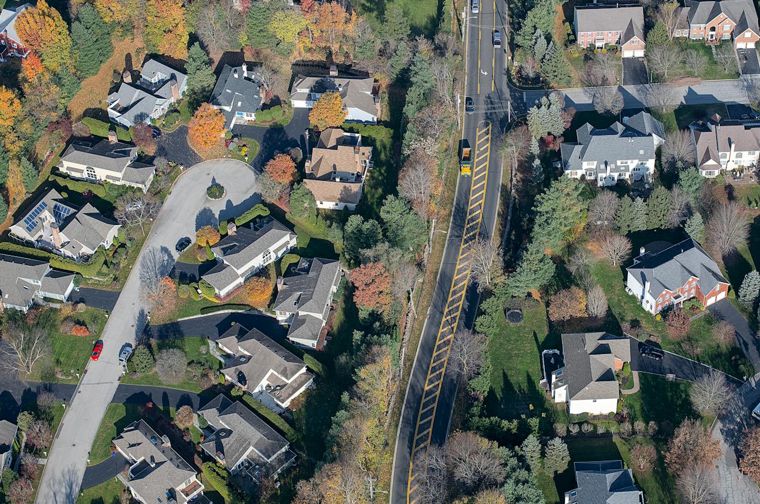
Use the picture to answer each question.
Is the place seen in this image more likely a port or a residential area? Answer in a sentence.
The picture captures a residential area.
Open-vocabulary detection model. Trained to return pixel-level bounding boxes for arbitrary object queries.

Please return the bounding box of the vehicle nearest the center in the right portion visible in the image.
[459,148,473,180]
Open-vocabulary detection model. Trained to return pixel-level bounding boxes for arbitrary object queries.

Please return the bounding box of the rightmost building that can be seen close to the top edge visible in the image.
[669,0,760,50]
